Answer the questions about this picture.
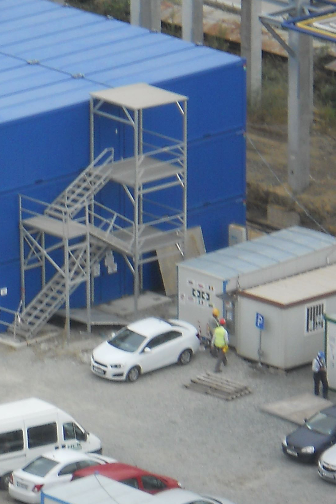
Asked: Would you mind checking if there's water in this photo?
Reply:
No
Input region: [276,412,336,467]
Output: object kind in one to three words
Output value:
car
